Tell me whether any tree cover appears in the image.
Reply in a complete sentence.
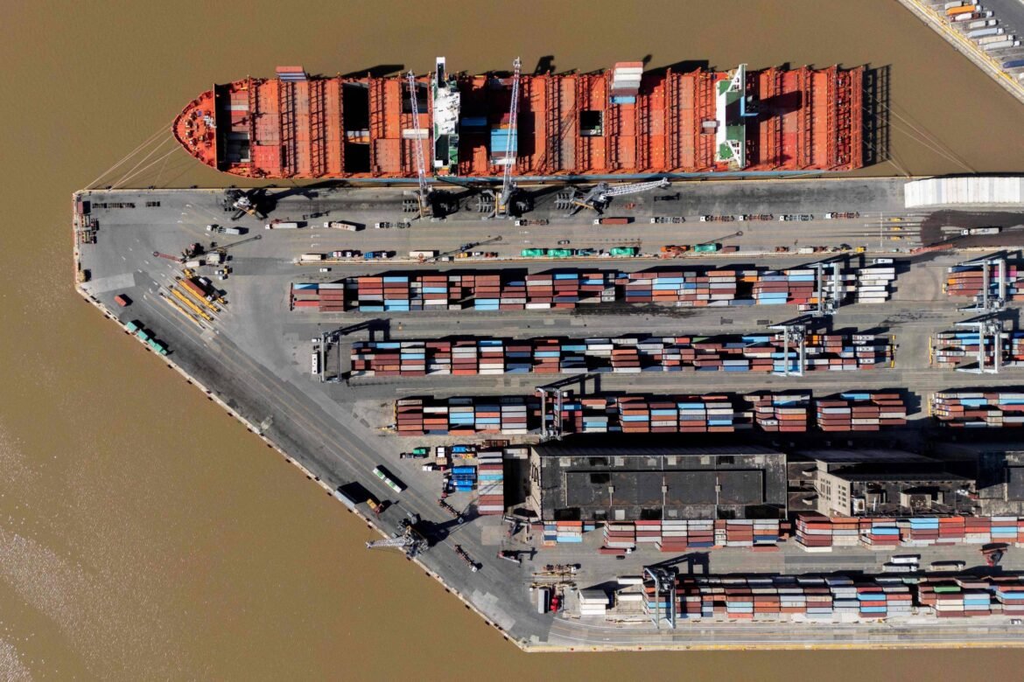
No, tree cover can't be seen anywhere here.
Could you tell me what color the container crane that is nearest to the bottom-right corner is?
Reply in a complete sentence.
The container crane that is nearest to the bottom-right corner is white.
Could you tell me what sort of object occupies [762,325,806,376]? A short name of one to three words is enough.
container crane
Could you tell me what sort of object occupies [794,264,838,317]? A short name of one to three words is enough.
container crane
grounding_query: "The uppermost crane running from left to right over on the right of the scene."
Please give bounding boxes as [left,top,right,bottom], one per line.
[565,181,670,215]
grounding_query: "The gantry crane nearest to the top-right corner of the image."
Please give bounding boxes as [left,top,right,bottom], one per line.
[952,260,1004,314]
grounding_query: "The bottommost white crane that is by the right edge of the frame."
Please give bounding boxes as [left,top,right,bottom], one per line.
[947,323,1001,374]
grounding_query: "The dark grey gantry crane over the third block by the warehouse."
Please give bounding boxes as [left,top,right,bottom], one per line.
[531,385,563,439]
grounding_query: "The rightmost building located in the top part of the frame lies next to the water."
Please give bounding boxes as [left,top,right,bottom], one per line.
[907,177,1024,209]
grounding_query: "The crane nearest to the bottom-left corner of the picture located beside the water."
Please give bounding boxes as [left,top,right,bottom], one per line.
[363,514,432,557]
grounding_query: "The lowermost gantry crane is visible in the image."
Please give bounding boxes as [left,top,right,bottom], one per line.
[639,567,677,630]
